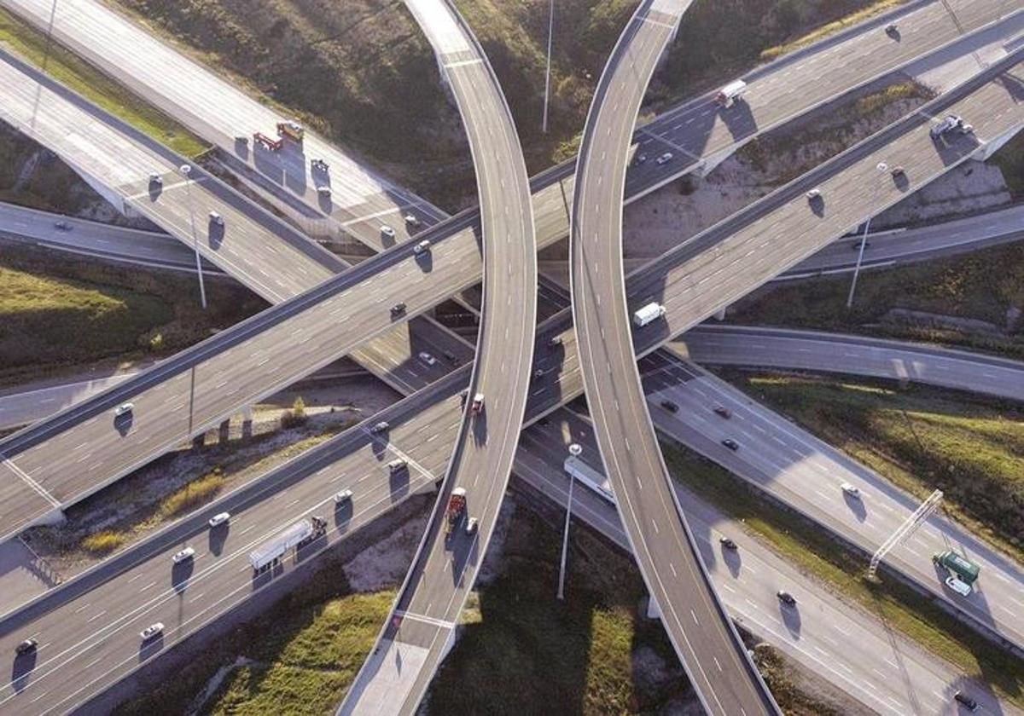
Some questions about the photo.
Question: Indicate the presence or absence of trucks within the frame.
Yes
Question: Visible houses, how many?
0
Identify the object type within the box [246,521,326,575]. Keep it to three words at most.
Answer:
truck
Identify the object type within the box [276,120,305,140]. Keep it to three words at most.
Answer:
vehicle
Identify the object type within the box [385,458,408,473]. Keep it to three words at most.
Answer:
car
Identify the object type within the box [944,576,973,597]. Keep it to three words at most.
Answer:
vehicle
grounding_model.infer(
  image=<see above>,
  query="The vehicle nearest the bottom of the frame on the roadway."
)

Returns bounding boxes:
[949,688,981,713]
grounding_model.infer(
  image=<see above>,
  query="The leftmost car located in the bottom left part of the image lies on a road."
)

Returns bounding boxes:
[11,637,40,657]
